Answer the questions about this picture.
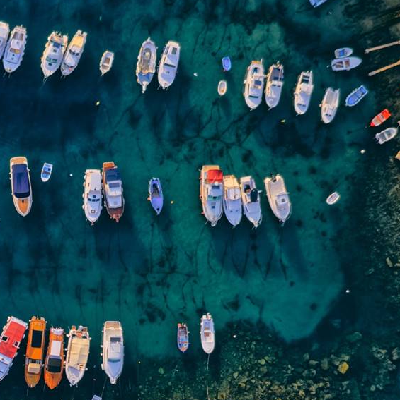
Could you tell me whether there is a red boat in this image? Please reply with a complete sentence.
Yes, a red boat is visible in the scene.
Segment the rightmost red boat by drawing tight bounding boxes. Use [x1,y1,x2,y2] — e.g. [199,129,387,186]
[370,109,391,125]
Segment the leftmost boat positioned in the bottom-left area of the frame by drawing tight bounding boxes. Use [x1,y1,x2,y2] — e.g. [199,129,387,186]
[0,316,27,382]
